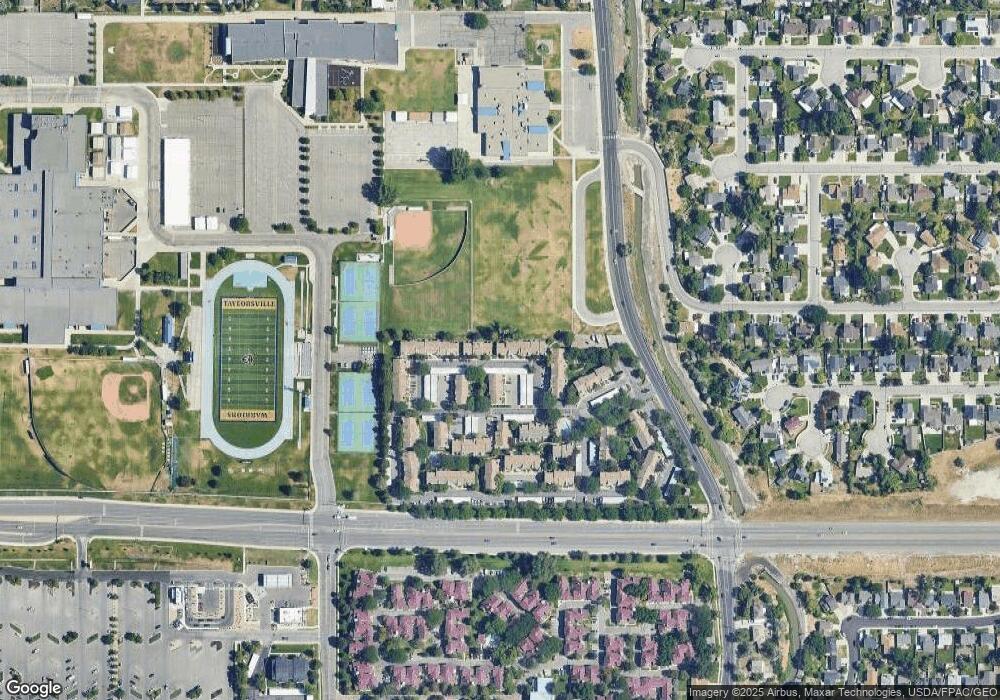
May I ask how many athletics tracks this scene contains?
1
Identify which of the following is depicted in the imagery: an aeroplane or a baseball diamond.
baseball diamond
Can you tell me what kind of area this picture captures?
residential area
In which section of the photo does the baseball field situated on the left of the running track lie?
left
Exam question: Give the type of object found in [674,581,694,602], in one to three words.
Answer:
house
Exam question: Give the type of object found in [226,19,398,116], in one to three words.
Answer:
building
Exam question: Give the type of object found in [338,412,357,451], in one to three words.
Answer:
tennis court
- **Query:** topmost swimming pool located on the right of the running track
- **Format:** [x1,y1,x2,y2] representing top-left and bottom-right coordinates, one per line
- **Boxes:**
[557,418,573,440]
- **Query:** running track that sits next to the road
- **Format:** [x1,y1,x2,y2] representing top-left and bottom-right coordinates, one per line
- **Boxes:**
[202,261,296,459]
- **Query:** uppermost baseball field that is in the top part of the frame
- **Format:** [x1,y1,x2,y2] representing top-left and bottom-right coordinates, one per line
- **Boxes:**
[392,210,466,284]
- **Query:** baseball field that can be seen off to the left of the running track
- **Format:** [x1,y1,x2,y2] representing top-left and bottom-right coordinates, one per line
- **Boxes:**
[103,372,153,421]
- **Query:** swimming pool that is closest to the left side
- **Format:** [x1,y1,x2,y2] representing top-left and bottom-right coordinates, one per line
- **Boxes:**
[429,452,444,468]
